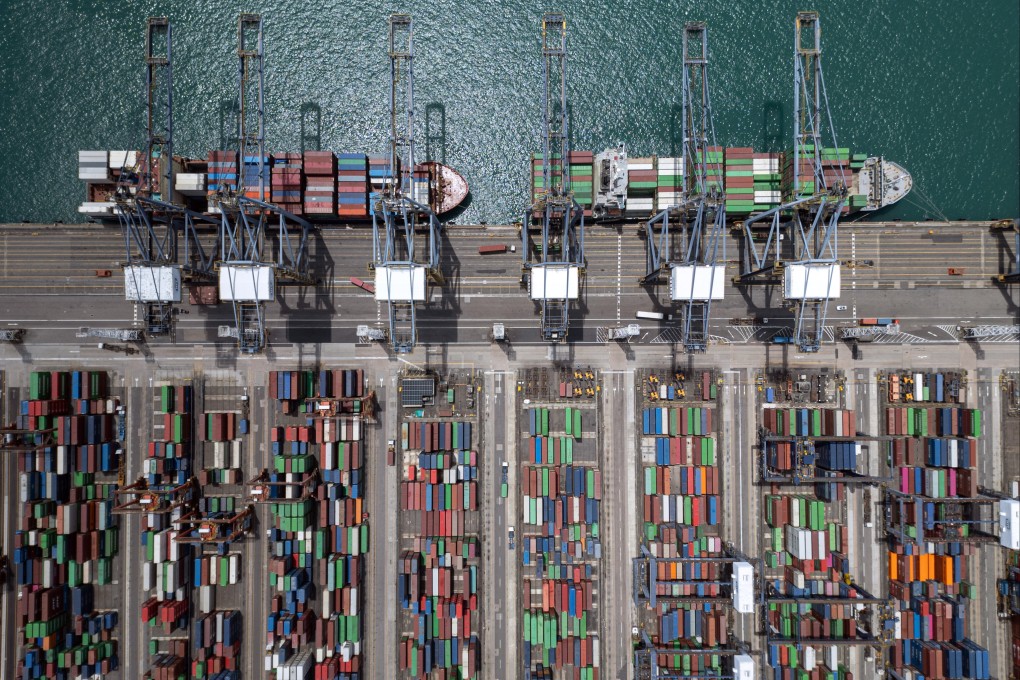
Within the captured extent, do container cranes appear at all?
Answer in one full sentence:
Yes, this view includes a container crane.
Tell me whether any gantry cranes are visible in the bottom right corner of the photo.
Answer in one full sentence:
Yes, there is a gantry crane in the bottom right corner of the photo.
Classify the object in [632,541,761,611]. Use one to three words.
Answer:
container crane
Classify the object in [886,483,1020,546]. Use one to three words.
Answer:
container crane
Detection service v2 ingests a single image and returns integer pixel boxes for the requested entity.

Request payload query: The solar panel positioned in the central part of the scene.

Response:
[402,380,433,405]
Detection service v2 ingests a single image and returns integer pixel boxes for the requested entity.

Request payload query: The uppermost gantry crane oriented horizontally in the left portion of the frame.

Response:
[302,390,377,422]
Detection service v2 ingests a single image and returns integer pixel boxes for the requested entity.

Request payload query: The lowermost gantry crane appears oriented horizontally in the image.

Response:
[632,624,761,680]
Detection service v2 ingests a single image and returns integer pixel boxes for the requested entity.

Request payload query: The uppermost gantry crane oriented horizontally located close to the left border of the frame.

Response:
[0,424,60,453]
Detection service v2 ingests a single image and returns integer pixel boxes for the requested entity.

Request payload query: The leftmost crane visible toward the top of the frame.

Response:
[106,12,250,337]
